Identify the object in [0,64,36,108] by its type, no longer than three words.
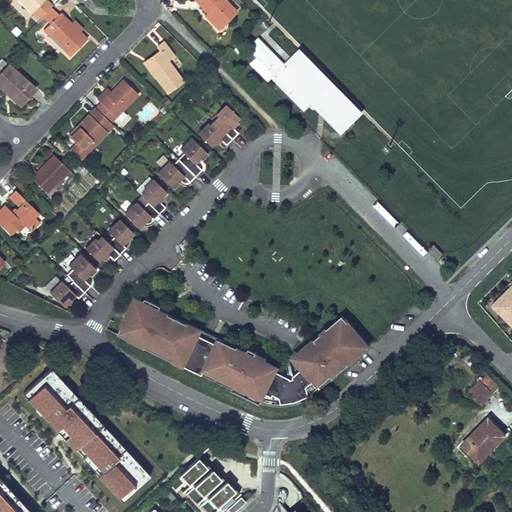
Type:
house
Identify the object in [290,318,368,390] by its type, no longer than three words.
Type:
building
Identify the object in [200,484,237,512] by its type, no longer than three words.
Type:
house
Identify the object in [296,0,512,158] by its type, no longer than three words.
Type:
soccer field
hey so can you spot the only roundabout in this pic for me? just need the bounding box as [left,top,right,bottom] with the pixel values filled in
[254,144,300,193]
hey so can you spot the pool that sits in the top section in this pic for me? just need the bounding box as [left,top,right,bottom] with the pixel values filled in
[136,102,160,124]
